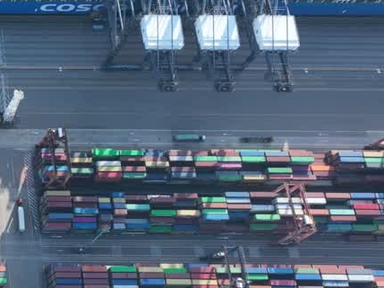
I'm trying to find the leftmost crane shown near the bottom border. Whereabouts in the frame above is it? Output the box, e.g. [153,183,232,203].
[204,242,252,288]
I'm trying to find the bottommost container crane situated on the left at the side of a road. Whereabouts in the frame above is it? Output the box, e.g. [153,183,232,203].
[31,130,65,191]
